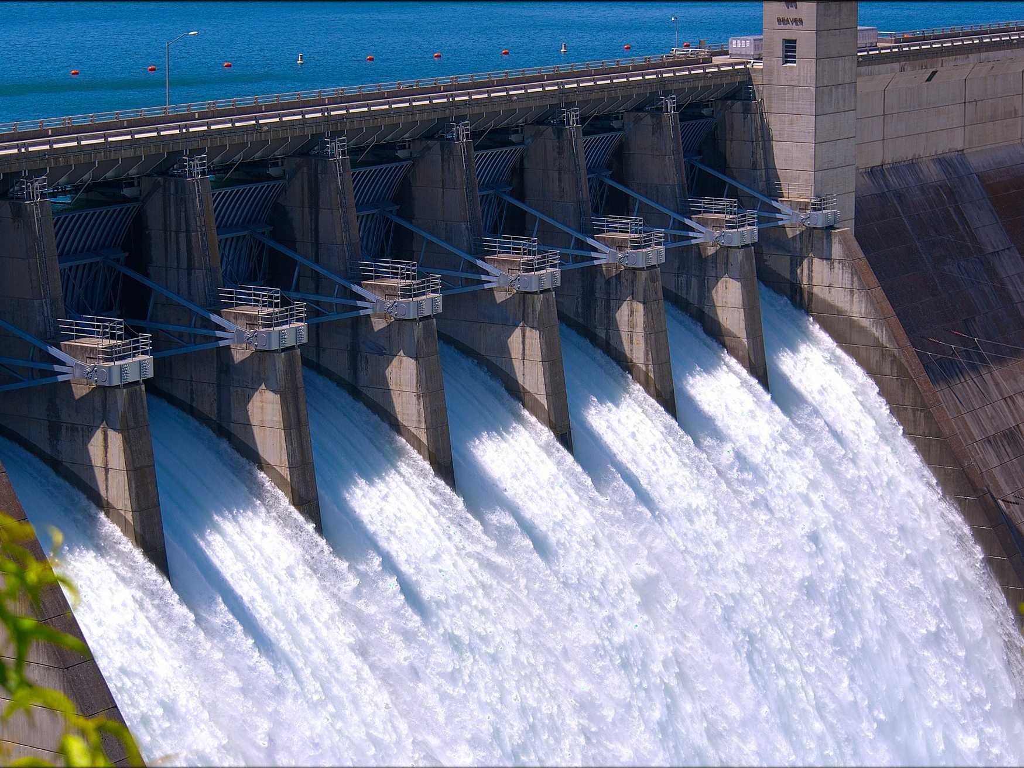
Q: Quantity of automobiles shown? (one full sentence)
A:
There are no automobiles in the image.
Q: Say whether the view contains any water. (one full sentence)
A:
Yes, the picture does contain water.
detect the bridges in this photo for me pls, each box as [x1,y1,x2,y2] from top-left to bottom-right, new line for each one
[0,53,751,205]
